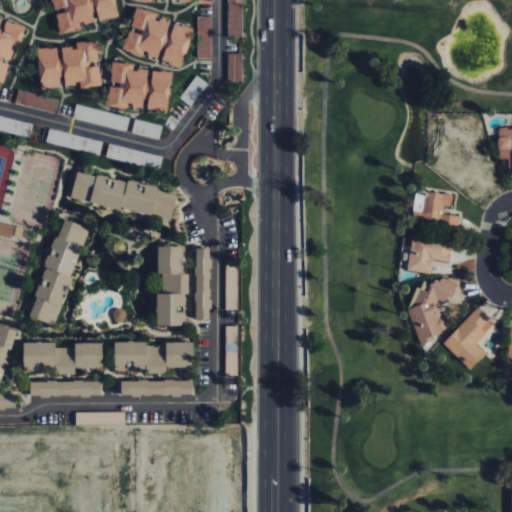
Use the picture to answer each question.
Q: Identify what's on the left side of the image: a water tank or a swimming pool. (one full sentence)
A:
Looking on the left side of the image, you will find a swimming pool.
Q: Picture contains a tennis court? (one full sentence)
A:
Yes, I can see a tennis court in this picture.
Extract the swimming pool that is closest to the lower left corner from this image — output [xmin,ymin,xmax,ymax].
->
[76,290,123,332]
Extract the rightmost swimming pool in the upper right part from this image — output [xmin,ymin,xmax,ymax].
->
[482,112,512,136]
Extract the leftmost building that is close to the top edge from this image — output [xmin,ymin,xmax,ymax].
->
[0,18,28,86]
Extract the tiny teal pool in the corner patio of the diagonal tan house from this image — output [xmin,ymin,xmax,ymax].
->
[480,330,497,359]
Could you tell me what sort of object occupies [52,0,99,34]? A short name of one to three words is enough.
building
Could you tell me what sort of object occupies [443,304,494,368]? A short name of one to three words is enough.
house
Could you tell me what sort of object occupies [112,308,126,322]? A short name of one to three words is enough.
gazebo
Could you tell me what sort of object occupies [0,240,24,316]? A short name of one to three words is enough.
tennis court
